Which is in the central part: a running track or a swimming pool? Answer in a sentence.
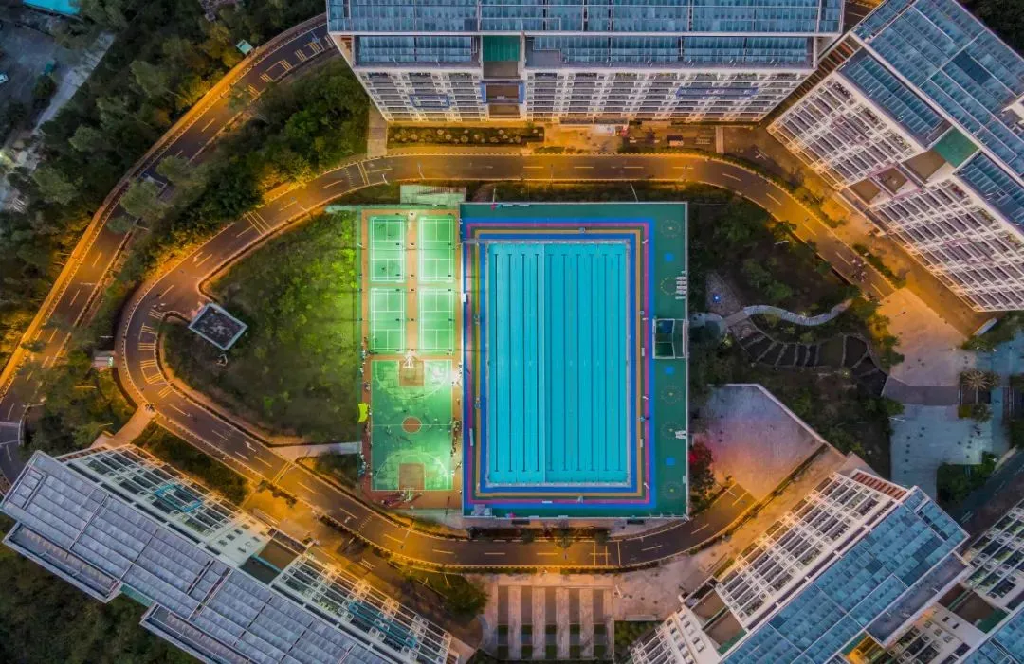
You can see a swimming pool in the central part.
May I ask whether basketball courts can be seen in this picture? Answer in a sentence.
Yes, this view includes a basketball court.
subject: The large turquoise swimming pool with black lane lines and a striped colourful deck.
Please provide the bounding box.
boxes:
[459,200,691,521]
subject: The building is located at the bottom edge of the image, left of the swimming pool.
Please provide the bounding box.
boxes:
[0,438,461,664]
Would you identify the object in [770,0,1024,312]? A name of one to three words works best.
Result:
building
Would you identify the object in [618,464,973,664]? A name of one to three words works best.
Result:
building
